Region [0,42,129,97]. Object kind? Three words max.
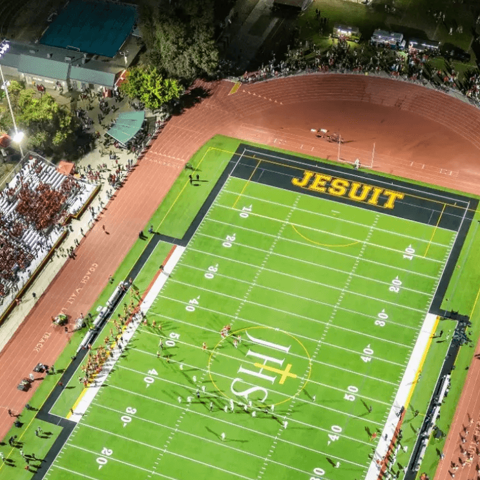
building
